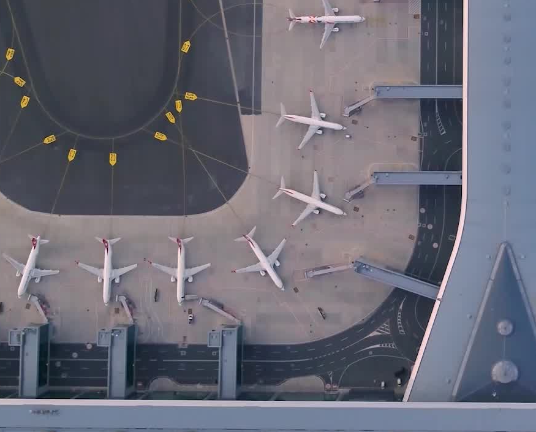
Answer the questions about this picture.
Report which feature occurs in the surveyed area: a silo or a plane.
plane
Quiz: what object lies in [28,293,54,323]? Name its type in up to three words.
jet bridge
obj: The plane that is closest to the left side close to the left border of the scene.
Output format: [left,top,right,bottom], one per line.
[5,231,60,302]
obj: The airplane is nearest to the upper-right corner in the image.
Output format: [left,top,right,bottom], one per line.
[288,0,365,48]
